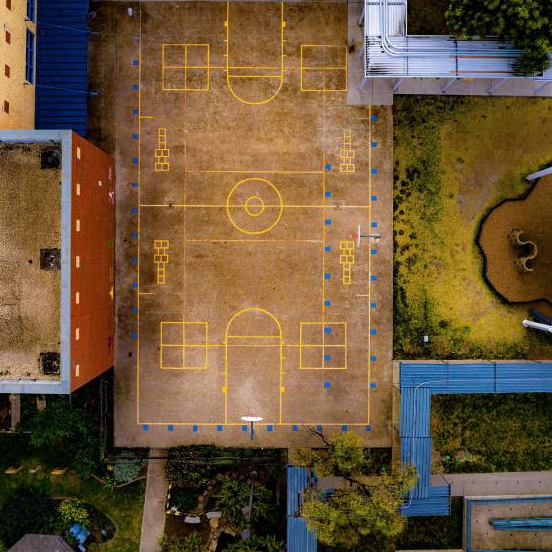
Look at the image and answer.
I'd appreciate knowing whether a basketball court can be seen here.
Yes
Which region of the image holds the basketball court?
center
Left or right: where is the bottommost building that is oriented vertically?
left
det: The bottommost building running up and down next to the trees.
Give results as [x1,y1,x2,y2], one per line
[0,131,114,395]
